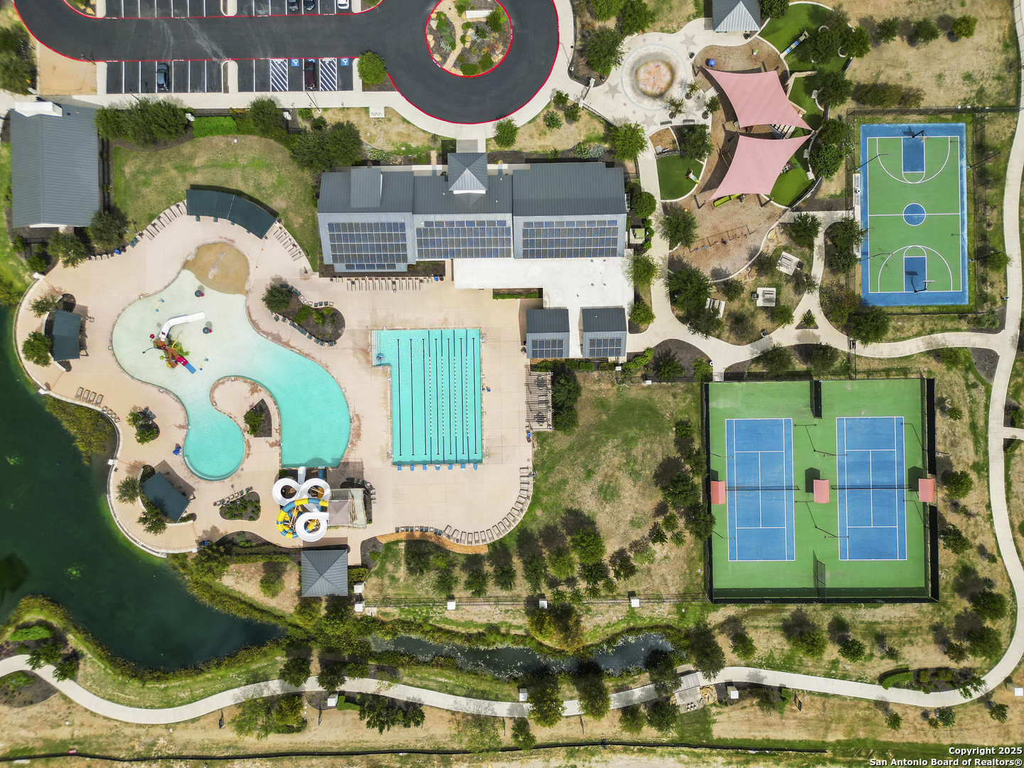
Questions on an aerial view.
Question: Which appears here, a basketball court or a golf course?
basketball court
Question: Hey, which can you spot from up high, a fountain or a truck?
fountain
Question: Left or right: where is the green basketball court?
right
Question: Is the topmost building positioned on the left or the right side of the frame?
right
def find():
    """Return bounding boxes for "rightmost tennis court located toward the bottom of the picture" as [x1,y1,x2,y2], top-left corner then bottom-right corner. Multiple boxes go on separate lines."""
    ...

[834,416,914,561]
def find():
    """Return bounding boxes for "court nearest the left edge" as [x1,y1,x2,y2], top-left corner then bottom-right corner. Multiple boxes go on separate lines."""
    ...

[725,417,802,562]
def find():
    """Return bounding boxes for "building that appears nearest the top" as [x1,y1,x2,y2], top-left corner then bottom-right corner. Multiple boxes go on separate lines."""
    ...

[709,0,761,39]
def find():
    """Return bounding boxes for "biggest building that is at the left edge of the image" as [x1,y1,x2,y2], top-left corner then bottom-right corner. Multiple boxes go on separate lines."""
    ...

[10,100,103,230]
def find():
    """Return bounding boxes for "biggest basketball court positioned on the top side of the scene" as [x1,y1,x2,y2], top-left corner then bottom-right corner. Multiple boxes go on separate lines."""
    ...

[861,123,968,307]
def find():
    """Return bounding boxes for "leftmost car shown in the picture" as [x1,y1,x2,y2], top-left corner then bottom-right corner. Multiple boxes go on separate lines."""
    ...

[156,62,170,91]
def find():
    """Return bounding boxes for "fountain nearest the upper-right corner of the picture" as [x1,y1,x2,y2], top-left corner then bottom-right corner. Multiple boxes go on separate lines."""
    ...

[622,45,686,110]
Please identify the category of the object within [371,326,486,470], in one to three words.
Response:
swimming pool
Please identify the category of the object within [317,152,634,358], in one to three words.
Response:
building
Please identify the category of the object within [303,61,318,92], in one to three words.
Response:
car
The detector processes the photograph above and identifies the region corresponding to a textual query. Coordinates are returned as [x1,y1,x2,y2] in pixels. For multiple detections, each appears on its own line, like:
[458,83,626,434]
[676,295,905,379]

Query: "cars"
[337,0,349,8]
[303,0,315,9]
[303,61,318,92]
[287,0,300,10]
[156,62,170,91]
